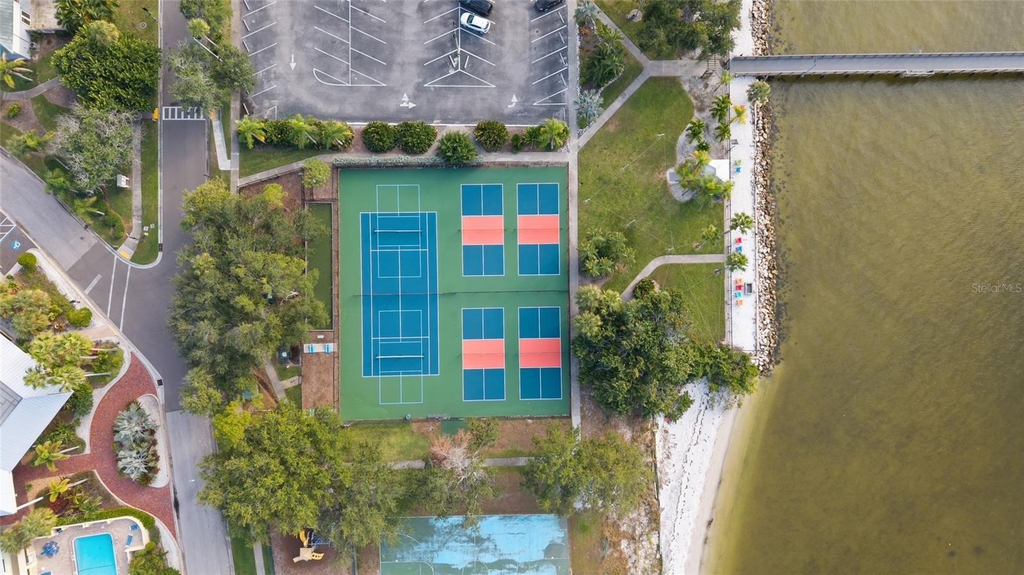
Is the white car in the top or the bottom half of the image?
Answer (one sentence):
It is in the top half that the white car appears.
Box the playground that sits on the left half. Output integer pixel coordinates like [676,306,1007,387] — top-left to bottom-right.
[292,531,330,565]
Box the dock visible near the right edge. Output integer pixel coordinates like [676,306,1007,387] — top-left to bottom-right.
[728,51,1024,79]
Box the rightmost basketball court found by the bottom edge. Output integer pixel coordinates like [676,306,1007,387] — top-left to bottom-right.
[380,514,569,575]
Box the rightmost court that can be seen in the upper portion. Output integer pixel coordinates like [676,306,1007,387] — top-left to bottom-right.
[514,183,562,275]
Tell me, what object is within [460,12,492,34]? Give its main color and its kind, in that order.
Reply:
white car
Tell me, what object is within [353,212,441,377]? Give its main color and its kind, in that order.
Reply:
blue tennis court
